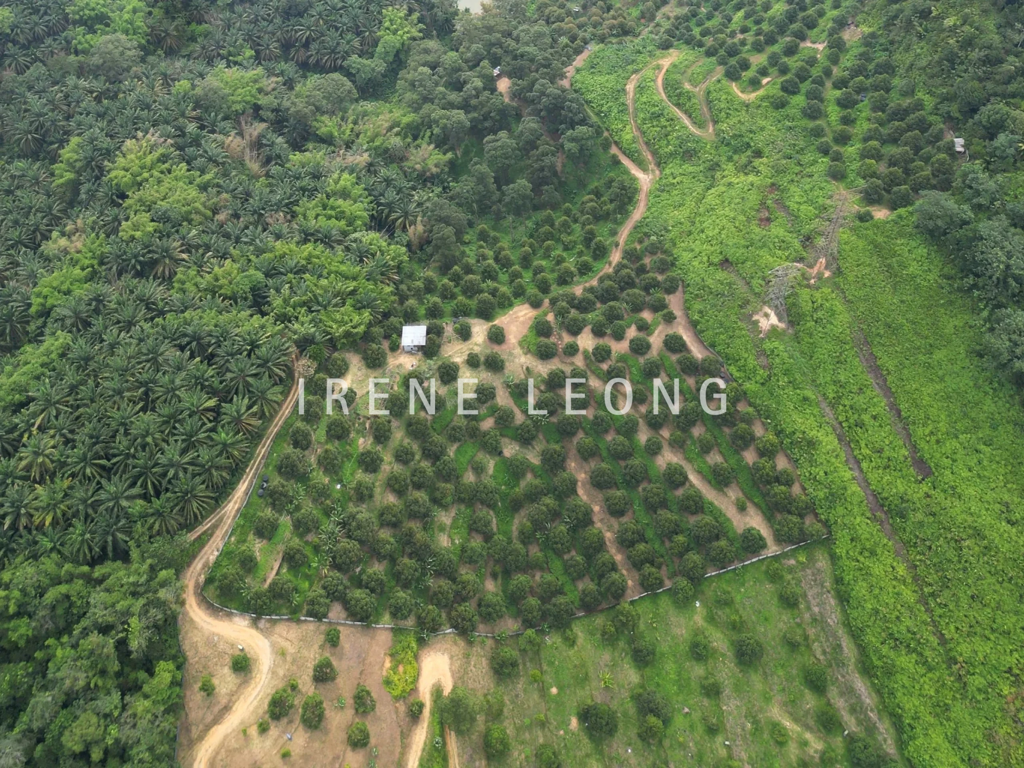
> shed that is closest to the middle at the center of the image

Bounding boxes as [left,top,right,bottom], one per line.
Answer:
[402,326,426,352]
